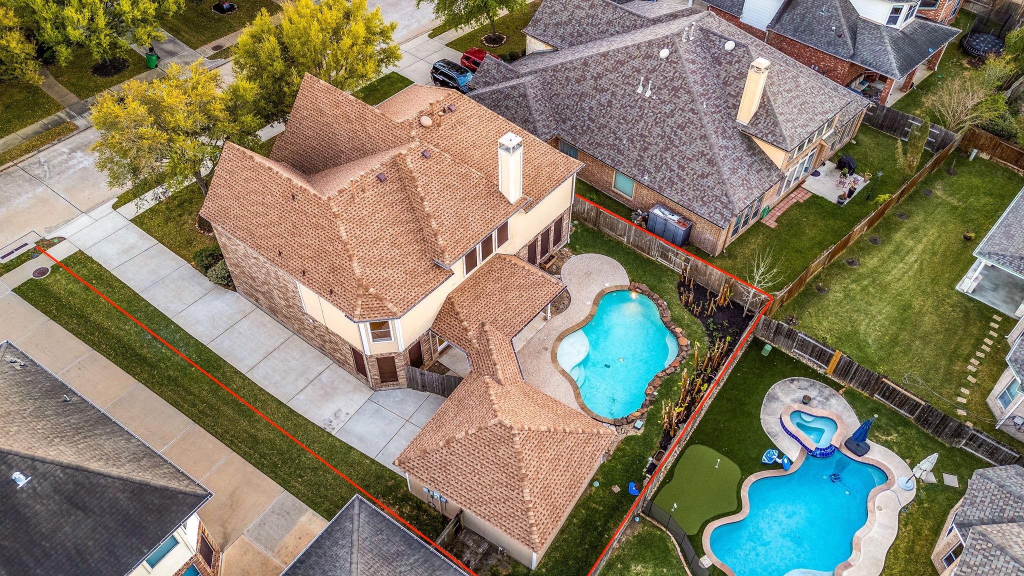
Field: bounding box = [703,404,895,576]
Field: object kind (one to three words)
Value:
swimming pool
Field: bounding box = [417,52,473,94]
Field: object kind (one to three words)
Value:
car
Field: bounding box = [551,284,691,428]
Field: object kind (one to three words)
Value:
swimming pool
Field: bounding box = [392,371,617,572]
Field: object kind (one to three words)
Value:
building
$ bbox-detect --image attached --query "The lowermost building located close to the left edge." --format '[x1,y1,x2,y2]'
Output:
[0,340,224,576]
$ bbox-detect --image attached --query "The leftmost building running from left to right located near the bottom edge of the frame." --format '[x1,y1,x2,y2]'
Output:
[276,490,477,576]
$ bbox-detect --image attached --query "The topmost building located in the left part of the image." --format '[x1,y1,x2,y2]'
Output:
[198,72,587,392]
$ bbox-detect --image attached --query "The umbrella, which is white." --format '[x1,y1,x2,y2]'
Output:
[894,454,932,492]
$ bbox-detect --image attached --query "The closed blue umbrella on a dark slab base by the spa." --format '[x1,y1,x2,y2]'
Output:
[843,414,878,457]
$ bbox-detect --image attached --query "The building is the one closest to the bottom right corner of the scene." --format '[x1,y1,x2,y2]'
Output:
[932,467,1024,576]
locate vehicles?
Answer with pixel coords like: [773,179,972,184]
[417,52,473,94]
[453,44,488,75]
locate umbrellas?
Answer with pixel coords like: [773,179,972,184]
[894,454,932,492]
[843,414,878,457]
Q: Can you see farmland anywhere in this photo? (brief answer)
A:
No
